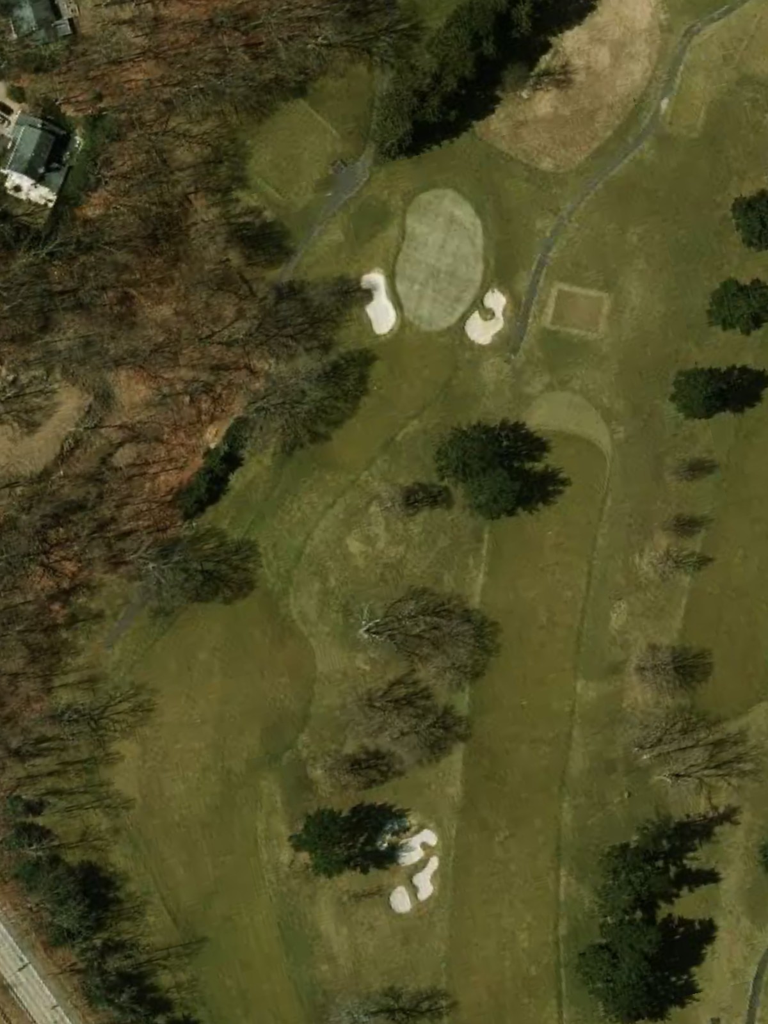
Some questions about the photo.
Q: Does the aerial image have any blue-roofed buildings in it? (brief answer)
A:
No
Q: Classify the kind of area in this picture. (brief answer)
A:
golf course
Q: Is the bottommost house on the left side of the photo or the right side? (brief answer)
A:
left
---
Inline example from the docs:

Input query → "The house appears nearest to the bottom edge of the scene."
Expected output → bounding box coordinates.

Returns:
[8,110,68,193]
